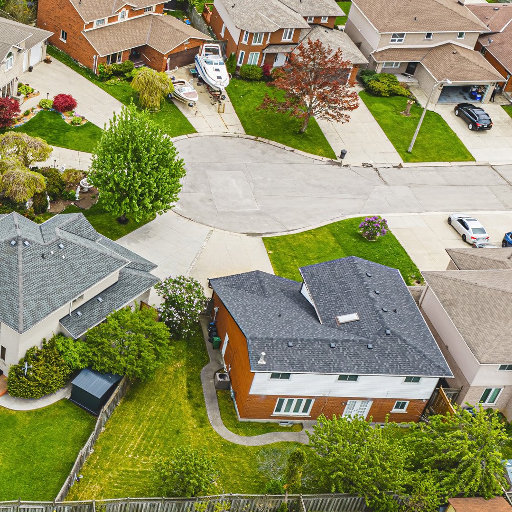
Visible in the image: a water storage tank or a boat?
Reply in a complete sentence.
Looking from above, you can make out a boat.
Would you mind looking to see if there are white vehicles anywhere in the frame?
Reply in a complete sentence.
Yes, there's a white vehicle here.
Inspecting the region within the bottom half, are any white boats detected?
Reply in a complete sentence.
No, the scene shows no white boat within the bottom half.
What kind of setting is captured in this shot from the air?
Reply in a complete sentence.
The area seen from above is a residential area.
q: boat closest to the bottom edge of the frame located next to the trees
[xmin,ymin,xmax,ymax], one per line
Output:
[169,78,202,110]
